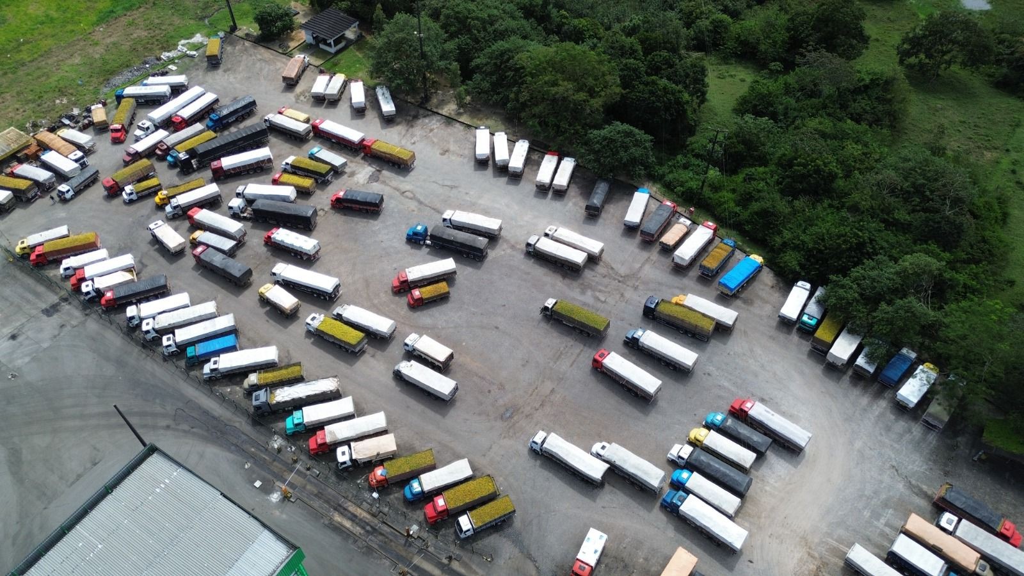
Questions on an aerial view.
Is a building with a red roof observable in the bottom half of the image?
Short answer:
No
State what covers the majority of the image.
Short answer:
paved ground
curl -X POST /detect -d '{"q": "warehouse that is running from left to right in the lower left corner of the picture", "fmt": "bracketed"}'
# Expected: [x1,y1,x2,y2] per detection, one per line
[0,443,307,576]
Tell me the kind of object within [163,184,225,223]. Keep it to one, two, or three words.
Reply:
truck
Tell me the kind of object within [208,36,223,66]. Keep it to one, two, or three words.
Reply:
vehicle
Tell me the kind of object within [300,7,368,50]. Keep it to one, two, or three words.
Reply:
house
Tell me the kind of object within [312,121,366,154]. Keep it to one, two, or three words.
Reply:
truck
